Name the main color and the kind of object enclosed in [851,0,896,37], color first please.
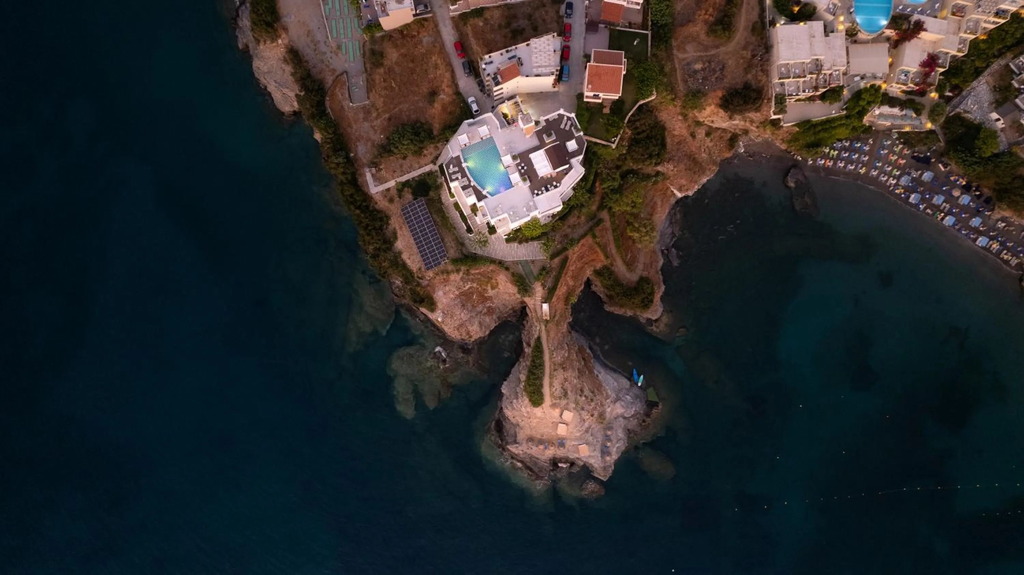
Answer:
blue swimming pool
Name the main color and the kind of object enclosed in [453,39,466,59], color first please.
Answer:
red vehicle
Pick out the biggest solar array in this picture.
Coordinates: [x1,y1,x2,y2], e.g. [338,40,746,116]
[401,197,450,271]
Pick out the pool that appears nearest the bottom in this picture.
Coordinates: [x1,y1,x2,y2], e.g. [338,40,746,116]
[461,136,513,199]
